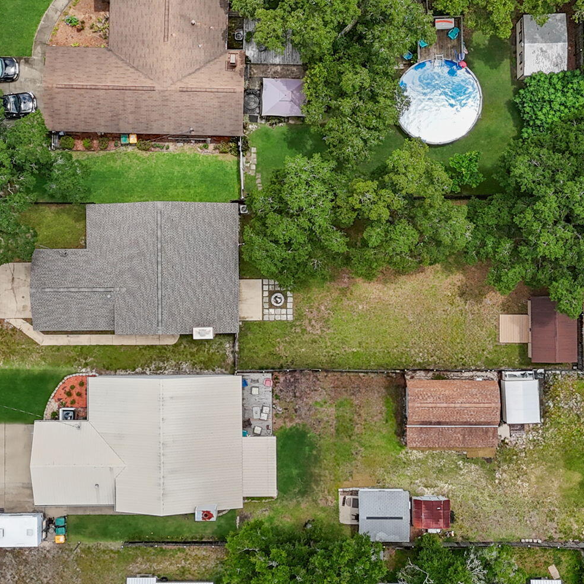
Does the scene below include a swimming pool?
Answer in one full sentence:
Yes, a swimming pool appears in the view.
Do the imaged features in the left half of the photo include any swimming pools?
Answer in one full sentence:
No, looking in the left half of the photo, there is no swimming pool.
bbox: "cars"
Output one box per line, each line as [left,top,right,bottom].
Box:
[0,90,37,116]
[0,58,19,82]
